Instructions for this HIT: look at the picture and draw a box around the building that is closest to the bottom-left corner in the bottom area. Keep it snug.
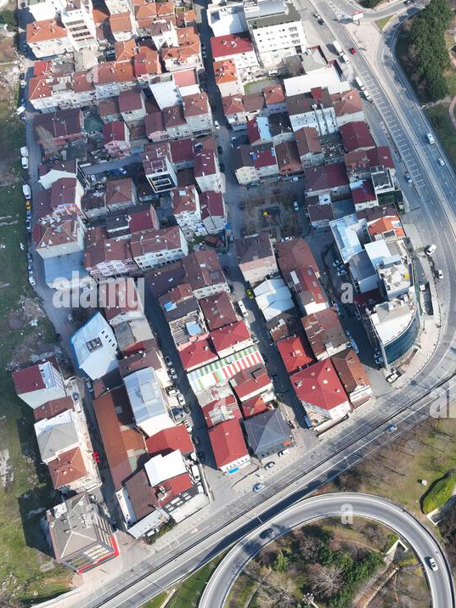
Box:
[46,492,113,574]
